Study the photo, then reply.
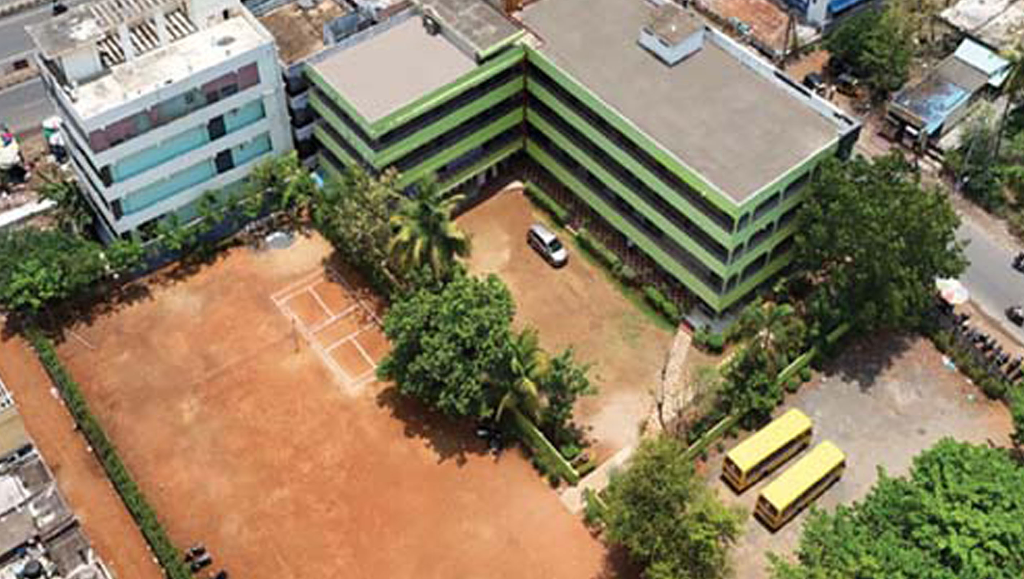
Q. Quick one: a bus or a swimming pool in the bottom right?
bus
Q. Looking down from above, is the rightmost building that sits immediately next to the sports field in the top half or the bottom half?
top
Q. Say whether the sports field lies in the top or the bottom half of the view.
bottom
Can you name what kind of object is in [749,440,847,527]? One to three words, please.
bus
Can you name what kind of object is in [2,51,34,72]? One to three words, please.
vehicle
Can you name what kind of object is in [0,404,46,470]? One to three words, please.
house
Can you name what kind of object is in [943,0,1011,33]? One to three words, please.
house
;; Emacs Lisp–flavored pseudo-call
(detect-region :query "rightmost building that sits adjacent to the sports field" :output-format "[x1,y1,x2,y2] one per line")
[304,0,862,322]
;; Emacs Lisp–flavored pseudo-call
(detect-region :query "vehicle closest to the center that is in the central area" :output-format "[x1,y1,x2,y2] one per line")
[530,224,569,267]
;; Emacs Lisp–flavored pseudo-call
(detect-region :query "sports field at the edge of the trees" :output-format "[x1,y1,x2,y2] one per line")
[0,217,617,579]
